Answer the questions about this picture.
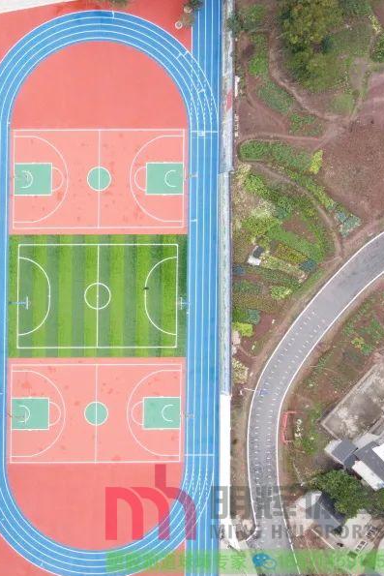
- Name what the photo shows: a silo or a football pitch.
football pitch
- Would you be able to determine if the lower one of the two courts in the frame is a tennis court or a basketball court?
basketball court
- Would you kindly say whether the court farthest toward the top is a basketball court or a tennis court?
basketball court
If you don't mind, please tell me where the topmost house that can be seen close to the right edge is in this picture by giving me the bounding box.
[319,350,384,441]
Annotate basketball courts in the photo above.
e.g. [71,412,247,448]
[6,357,186,464]
[8,128,188,235]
